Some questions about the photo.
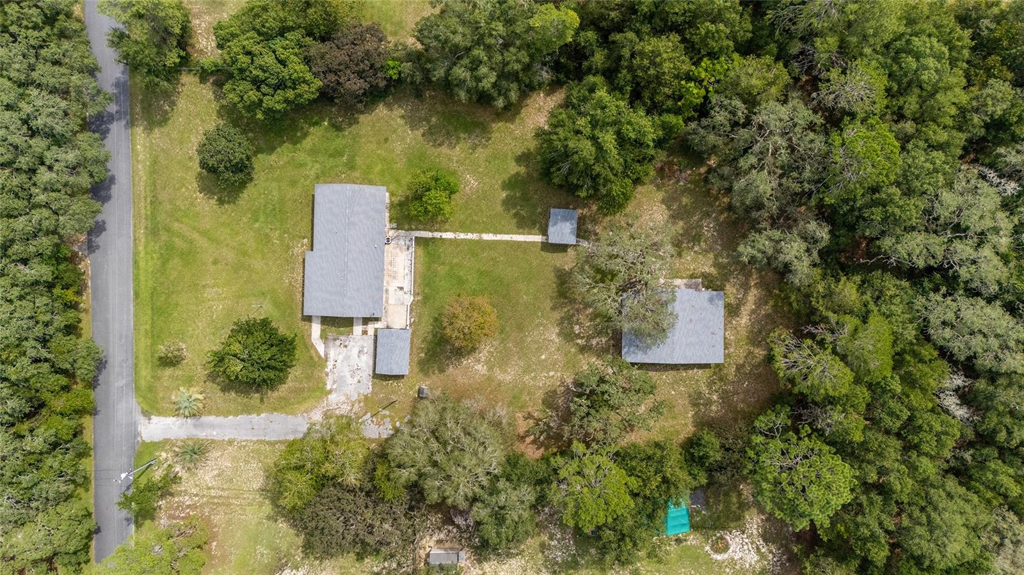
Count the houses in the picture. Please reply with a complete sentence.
In total, there are 2 houses in the scene.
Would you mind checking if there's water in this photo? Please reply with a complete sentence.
No, there's no water in this view.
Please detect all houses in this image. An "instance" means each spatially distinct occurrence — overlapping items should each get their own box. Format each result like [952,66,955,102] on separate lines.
[302,184,386,318]
[622,291,724,364]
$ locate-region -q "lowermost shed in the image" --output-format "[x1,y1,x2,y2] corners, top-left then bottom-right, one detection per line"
[430,545,461,567]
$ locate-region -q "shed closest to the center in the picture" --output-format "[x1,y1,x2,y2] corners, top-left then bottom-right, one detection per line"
[549,209,577,244]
